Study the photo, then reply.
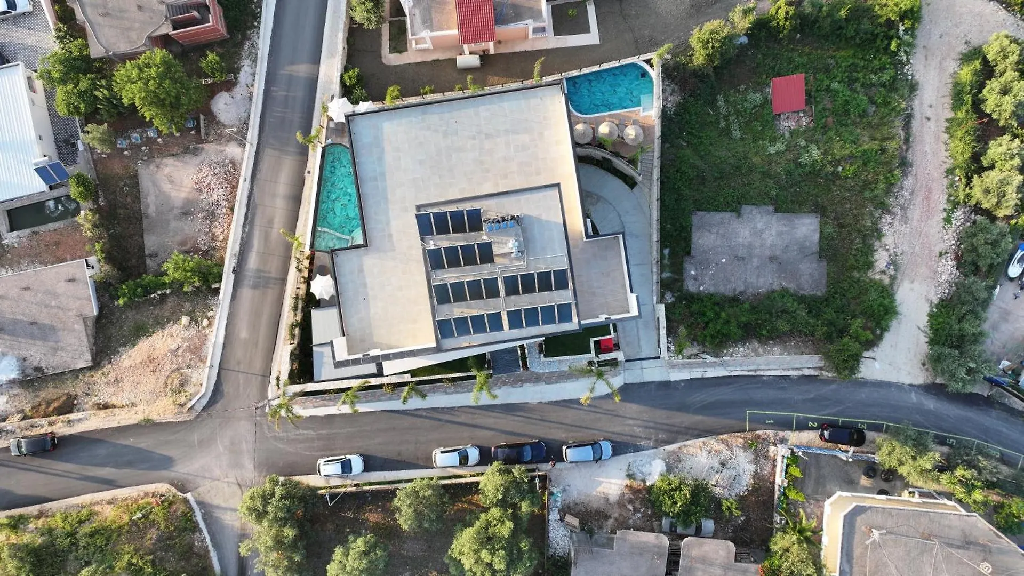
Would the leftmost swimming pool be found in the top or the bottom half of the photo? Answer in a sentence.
The leftmost swimming pool is in the top half of the image.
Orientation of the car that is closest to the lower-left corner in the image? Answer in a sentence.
The car that is closest to the lower-left corner is oriented from side to side.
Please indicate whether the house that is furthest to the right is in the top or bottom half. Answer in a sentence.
The house that is furthest to the right is in the bottom half of the image.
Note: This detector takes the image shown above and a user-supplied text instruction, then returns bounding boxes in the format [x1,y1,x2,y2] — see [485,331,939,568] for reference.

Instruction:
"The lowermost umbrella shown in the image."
[311,274,334,300]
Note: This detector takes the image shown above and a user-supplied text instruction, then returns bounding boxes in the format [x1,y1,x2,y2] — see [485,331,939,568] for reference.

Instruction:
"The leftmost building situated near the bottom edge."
[568,520,670,576]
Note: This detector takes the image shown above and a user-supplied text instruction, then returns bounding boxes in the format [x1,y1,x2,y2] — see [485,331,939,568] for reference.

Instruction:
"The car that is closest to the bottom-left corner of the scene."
[11,432,59,458]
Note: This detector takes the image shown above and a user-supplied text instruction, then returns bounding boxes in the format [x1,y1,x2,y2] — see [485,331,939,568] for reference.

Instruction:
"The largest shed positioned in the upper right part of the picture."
[765,74,805,116]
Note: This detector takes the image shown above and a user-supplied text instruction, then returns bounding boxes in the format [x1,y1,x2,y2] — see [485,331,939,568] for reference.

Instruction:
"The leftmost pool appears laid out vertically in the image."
[312,143,363,252]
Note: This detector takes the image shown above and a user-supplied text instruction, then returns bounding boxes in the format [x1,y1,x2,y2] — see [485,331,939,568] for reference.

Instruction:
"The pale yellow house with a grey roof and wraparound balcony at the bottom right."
[820,486,1024,576]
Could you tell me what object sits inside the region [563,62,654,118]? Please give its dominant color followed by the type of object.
blue swimming pool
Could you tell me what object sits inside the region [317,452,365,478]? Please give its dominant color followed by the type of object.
white car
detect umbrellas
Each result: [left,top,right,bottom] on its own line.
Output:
[326,98,353,124]
[622,125,643,146]
[597,122,618,142]
[311,274,334,300]
[575,124,593,144]
[354,100,376,110]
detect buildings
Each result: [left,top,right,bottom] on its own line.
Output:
[404,0,547,58]
[0,258,113,386]
[765,74,805,116]
[600,338,614,354]
[820,486,1024,576]
[67,0,235,76]
[311,81,641,385]
[676,530,759,576]
[0,61,66,207]
[568,520,670,576]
